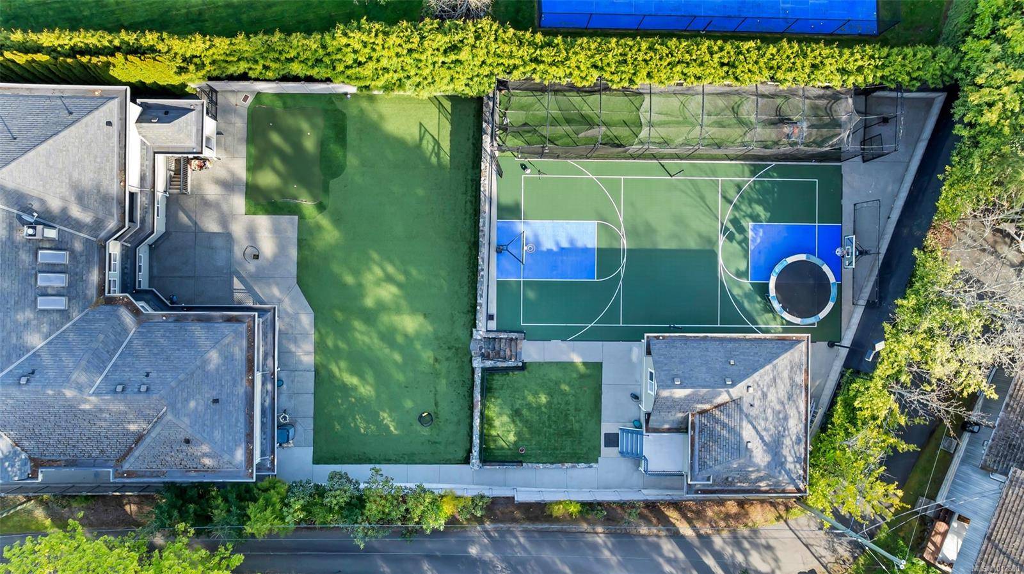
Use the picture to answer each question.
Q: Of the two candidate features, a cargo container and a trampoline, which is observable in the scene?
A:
trampoline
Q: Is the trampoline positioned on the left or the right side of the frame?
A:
right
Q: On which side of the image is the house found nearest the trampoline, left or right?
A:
right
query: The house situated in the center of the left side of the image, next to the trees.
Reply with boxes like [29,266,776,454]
[0,83,286,482]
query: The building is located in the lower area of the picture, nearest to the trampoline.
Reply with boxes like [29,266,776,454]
[619,334,810,497]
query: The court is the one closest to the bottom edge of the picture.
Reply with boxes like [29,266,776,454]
[497,160,841,341]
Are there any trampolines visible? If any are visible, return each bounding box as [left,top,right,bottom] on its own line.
[765,255,837,325]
